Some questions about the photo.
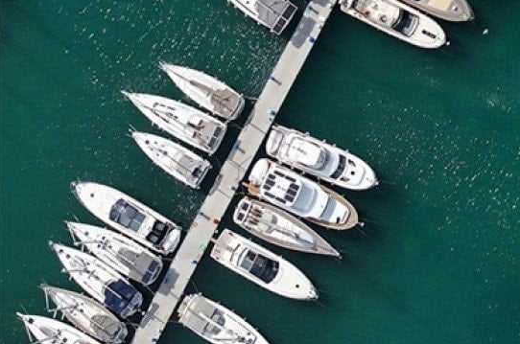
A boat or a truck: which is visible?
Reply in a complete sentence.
Looking from above, you can make out a boat.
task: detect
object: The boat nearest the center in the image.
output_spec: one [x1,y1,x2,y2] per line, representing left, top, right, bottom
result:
[246,159,269,183]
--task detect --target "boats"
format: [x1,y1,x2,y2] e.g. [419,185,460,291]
[222,191,358,266]
[404,0,478,20]
[108,79,239,151]
[158,53,257,120]
[38,272,133,344]
[14,310,100,344]
[62,175,189,253]
[233,0,299,31]
[62,212,168,291]
[249,116,391,189]
[165,275,272,344]
[197,224,337,316]
[341,0,455,57]
[162,228,181,253]
[47,230,149,316]
[231,152,362,232]
[129,132,218,198]
[246,159,269,183]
